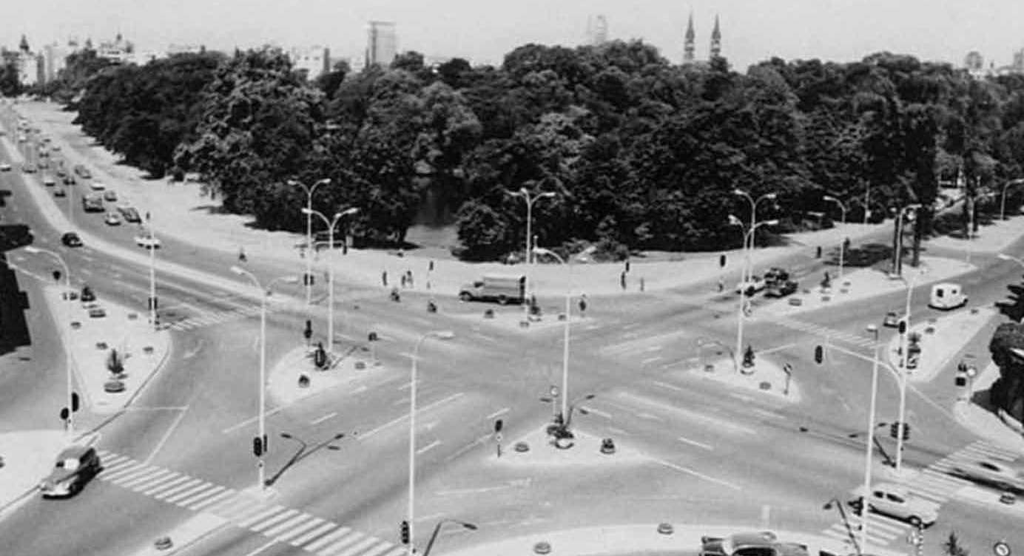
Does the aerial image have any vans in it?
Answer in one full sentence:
Yes, the picture does show a van.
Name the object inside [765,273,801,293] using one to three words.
car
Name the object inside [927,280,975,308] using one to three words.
van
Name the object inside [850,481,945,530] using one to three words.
car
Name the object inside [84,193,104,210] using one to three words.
vehicle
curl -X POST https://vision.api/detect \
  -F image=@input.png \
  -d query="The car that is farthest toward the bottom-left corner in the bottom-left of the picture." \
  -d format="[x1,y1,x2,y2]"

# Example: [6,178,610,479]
[39,441,106,487]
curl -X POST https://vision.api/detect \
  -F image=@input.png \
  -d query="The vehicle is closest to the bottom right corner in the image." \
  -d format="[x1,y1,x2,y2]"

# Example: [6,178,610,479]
[949,454,1024,491]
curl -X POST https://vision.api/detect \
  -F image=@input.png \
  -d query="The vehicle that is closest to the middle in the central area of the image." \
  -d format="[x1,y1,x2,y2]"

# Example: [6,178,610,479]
[456,274,532,305]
